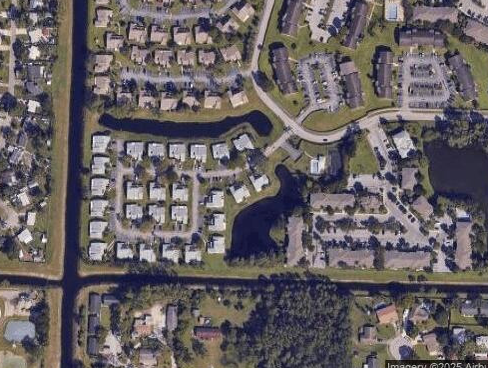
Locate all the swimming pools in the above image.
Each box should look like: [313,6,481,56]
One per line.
[386,0,405,22]
[310,158,319,175]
